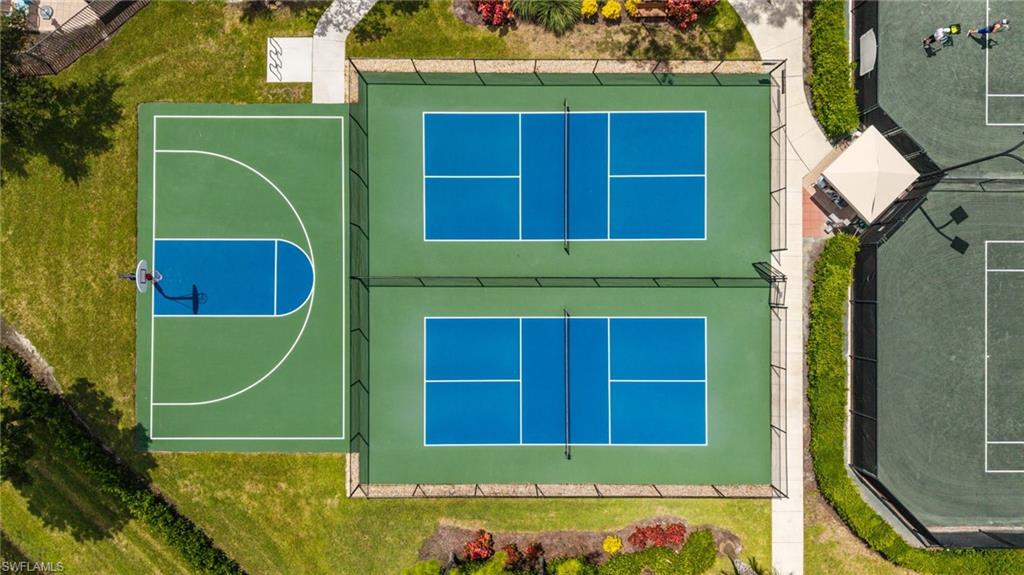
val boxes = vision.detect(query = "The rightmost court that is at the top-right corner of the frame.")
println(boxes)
[878,0,1024,176]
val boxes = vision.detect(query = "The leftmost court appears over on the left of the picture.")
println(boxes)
[136,104,359,453]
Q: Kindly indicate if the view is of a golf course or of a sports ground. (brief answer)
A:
sports ground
